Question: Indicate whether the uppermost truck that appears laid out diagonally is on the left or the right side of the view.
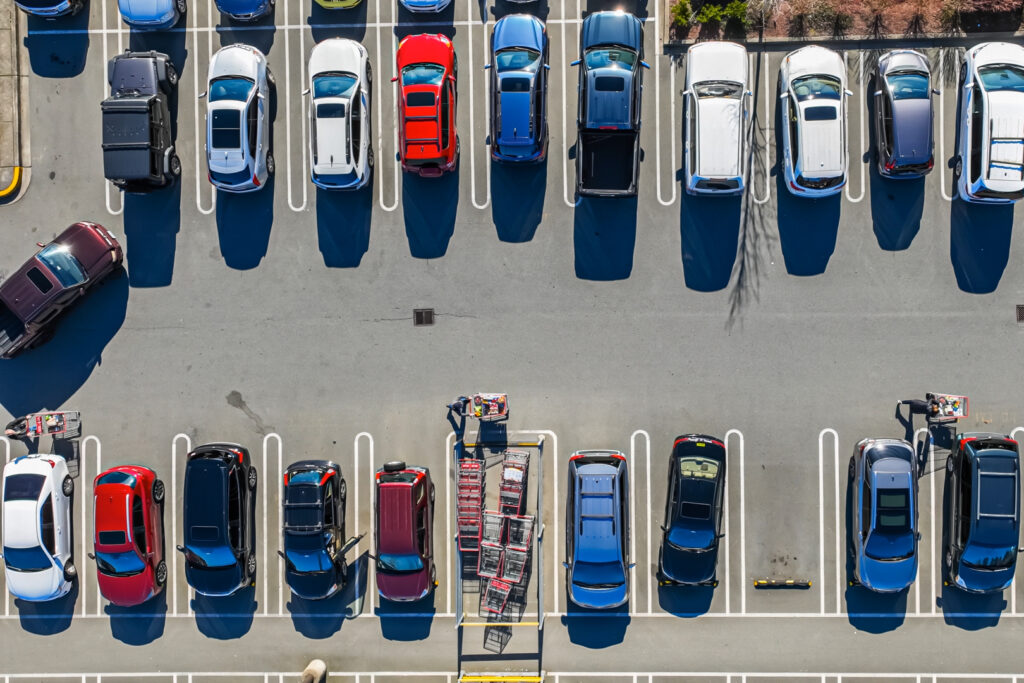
left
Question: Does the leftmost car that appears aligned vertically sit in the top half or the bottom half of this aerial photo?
bottom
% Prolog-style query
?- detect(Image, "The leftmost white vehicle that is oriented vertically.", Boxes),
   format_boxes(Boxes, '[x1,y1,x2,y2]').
[0,453,74,603]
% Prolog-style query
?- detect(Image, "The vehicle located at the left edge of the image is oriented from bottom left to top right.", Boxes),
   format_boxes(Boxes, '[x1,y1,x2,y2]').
[0,222,129,365]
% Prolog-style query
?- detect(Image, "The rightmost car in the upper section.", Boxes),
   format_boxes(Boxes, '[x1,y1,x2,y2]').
[952,43,1024,205]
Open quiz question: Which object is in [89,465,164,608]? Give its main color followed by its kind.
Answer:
red car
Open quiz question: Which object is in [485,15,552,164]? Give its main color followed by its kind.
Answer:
blue car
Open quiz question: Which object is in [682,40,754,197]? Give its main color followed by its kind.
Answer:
white car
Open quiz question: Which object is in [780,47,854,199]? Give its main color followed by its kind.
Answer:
white car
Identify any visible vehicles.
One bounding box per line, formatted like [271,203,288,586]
[682,40,754,197]
[21,0,78,17]
[217,0,275,22]
[780,47,854,199]
[849,436,923,592]
[89,465,164,608]
[403,0,448,14]
[369,461,436,603]
[952,43,1024,205]
[0,453,74,603]
[564,449,634,610]
[181,442,256,598]
[390,34,456,179]
[574,10,649,201]
[278,458,370,602]
[200,44,273,194]
[0,222,129,365]
[947,432,1024,594]
[102,50,179,191]
[485,15,552,164]
[301,38,371,191]
[662,434,730,586]
[870,51,943,181]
